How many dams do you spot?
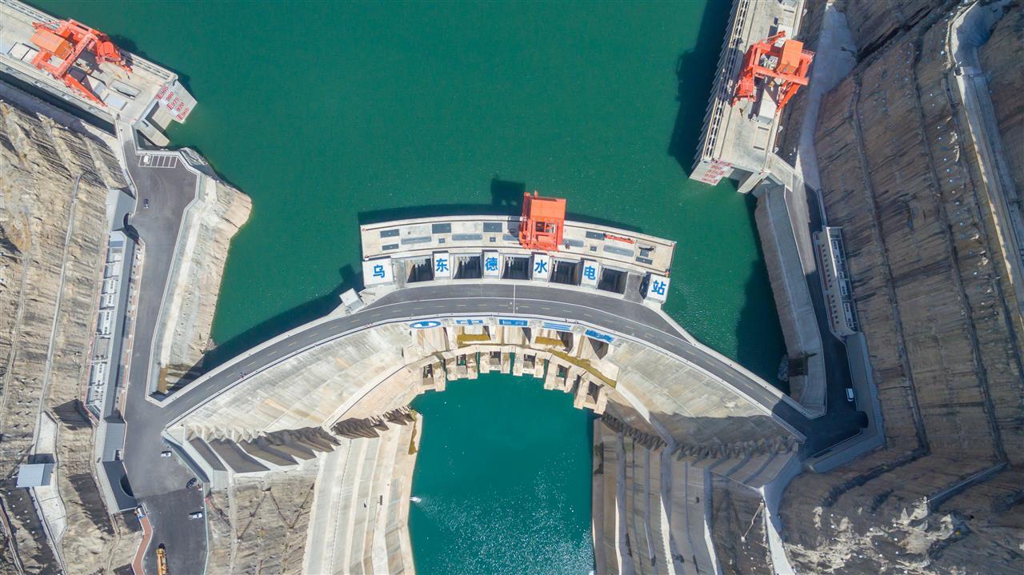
1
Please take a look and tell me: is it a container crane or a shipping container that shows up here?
container crane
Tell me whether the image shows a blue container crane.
No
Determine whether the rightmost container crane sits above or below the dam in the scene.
above it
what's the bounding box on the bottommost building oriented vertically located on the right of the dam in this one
[820,226,858,335]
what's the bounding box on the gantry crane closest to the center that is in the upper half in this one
[515,192,566,250]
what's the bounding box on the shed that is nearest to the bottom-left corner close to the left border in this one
[21,463,67,487]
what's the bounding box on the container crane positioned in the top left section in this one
[26,15,133,109]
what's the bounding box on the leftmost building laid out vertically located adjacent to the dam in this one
[84,234,135,416]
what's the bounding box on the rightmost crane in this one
[731,32,818,119]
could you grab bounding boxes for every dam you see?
[162,213,811,454]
